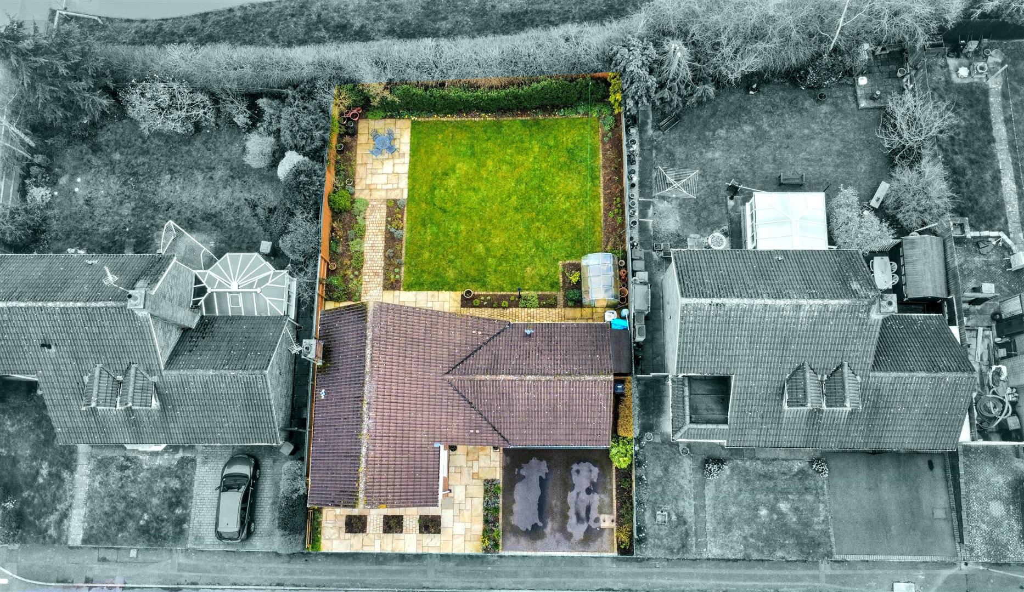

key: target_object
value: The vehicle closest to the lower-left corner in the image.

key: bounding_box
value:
[212,454,263,545]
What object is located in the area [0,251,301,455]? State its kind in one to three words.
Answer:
house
